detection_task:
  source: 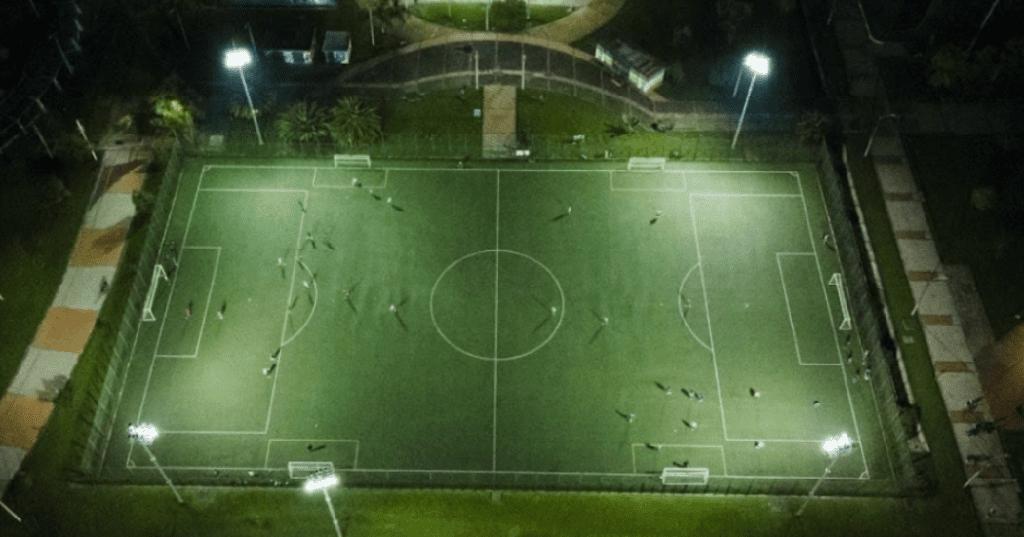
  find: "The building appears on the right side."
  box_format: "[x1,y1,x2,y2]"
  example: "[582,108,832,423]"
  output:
[594,28,669,90]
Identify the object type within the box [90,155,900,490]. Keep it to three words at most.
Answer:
soccer field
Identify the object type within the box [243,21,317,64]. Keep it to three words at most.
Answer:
building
